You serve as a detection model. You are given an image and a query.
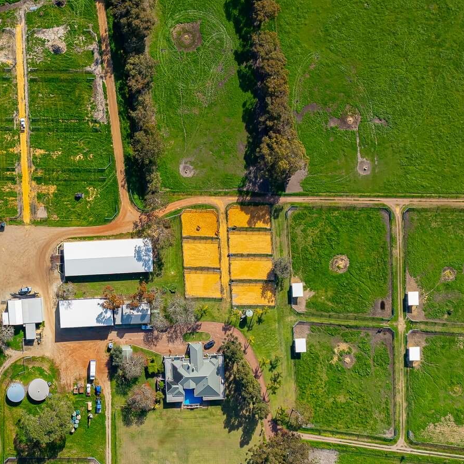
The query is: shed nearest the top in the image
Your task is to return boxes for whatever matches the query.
[63,238,152,276]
